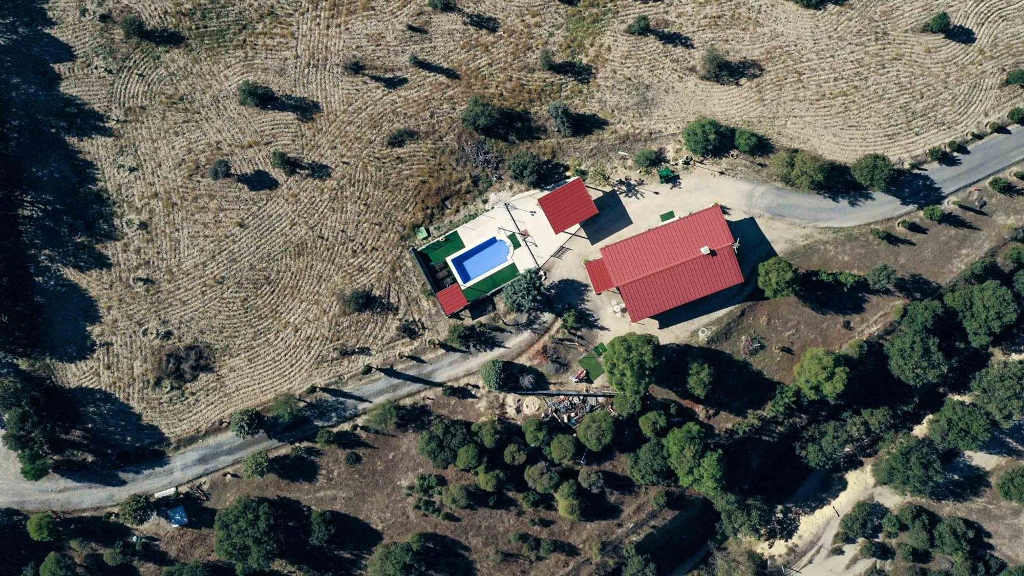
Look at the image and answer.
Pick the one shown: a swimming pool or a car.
swimming pool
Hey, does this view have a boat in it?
No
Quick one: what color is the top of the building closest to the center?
red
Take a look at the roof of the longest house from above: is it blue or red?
red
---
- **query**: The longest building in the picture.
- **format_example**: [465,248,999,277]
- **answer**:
[585,205,744,322]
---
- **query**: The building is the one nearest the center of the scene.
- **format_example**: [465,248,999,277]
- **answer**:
[436,283,469,316]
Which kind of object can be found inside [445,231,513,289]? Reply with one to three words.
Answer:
swimming pool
